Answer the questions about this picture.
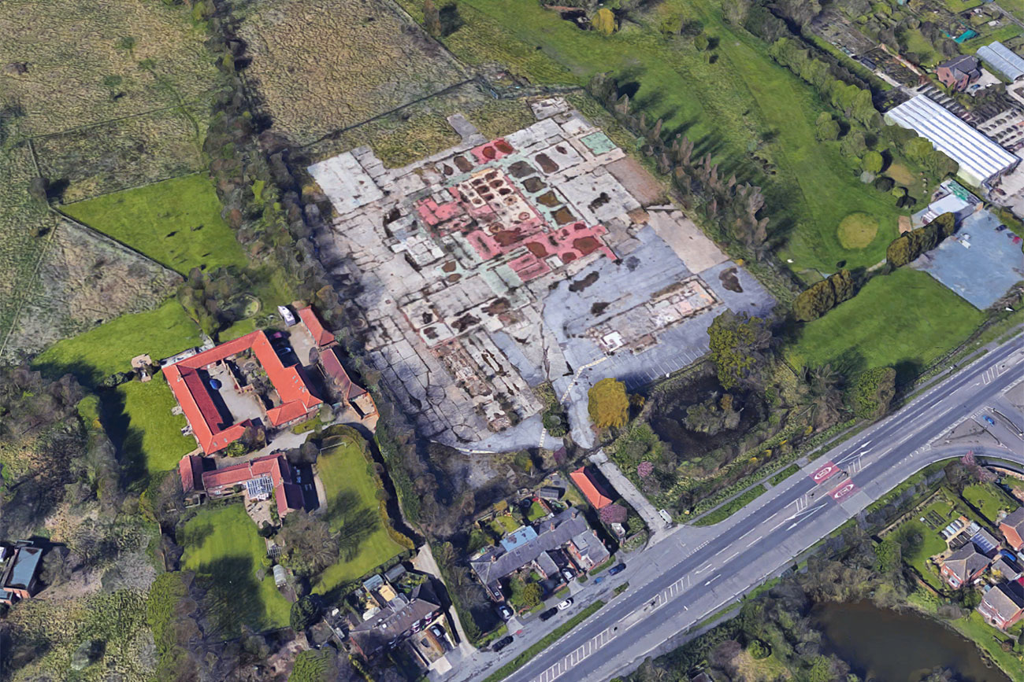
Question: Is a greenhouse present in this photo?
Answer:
Yes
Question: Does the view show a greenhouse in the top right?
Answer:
Yes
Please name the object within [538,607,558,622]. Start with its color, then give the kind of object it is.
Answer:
black car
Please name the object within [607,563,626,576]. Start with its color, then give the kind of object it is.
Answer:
blue vehicle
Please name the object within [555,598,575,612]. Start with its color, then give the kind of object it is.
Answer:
white car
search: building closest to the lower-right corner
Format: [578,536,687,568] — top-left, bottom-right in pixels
[978,581,1024,633]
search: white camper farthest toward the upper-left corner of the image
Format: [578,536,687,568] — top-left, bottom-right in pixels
[277,302,294,326]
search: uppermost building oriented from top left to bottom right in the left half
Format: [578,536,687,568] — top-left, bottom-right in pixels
[297,304,335,351]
